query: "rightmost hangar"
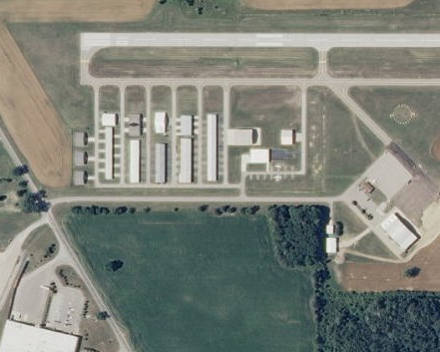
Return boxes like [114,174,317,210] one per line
[382,212,417,248]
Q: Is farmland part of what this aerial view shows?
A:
Yes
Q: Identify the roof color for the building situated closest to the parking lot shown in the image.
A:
white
